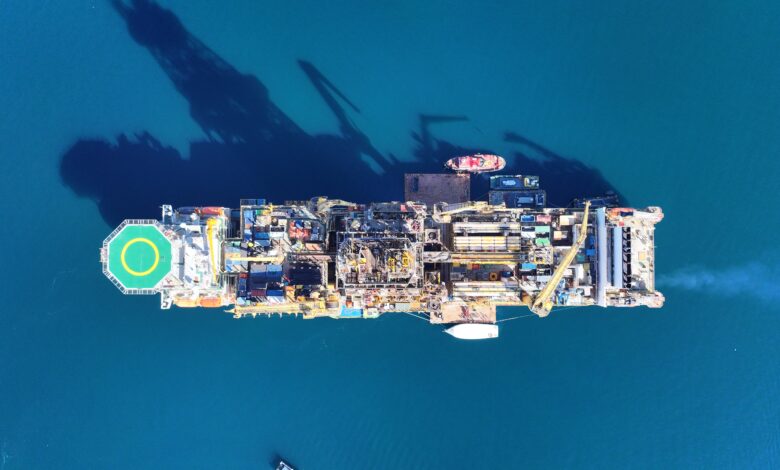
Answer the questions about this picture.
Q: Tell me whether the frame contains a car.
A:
No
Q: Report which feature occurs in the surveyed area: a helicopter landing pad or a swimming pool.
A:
helicopter landing pad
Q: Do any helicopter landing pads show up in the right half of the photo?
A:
No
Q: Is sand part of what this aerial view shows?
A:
No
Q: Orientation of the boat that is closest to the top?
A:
from left to right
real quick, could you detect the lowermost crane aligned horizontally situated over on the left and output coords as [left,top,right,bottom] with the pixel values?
[229,290,340,315]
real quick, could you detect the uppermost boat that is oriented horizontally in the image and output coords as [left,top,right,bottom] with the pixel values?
[446,152,507,174]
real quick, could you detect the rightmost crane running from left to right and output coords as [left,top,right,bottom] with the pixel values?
[475,200,599,214]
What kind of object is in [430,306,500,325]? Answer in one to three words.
ship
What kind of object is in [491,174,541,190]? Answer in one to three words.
boat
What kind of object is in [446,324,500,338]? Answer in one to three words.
boat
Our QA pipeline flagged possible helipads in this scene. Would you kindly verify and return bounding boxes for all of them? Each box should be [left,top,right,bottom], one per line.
[100,218,187,295]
